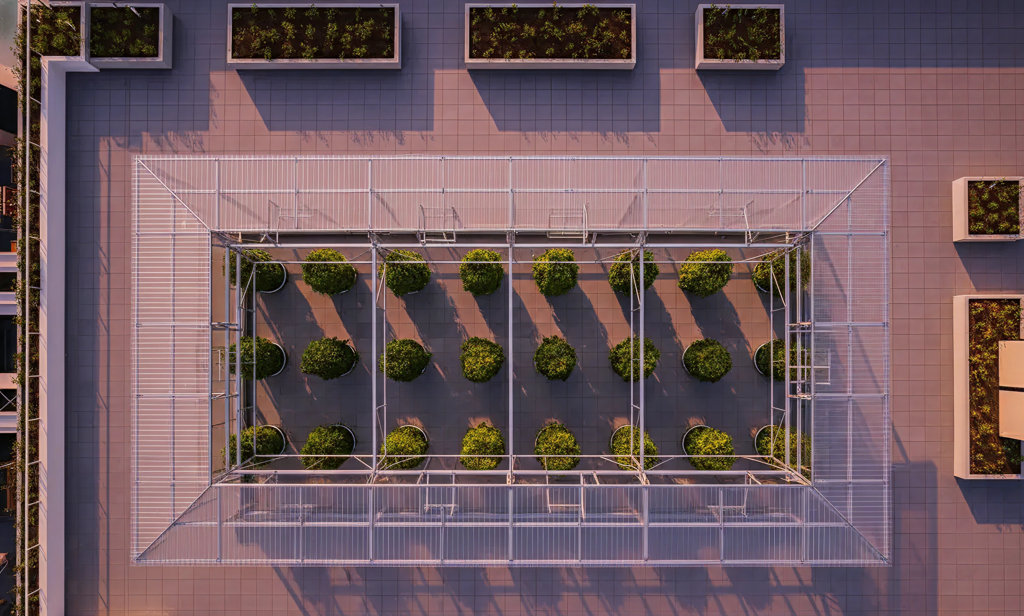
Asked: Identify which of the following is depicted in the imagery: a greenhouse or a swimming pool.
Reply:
greenhouse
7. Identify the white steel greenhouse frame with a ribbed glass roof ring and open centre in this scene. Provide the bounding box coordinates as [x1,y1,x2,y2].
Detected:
[129,152,895,570]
